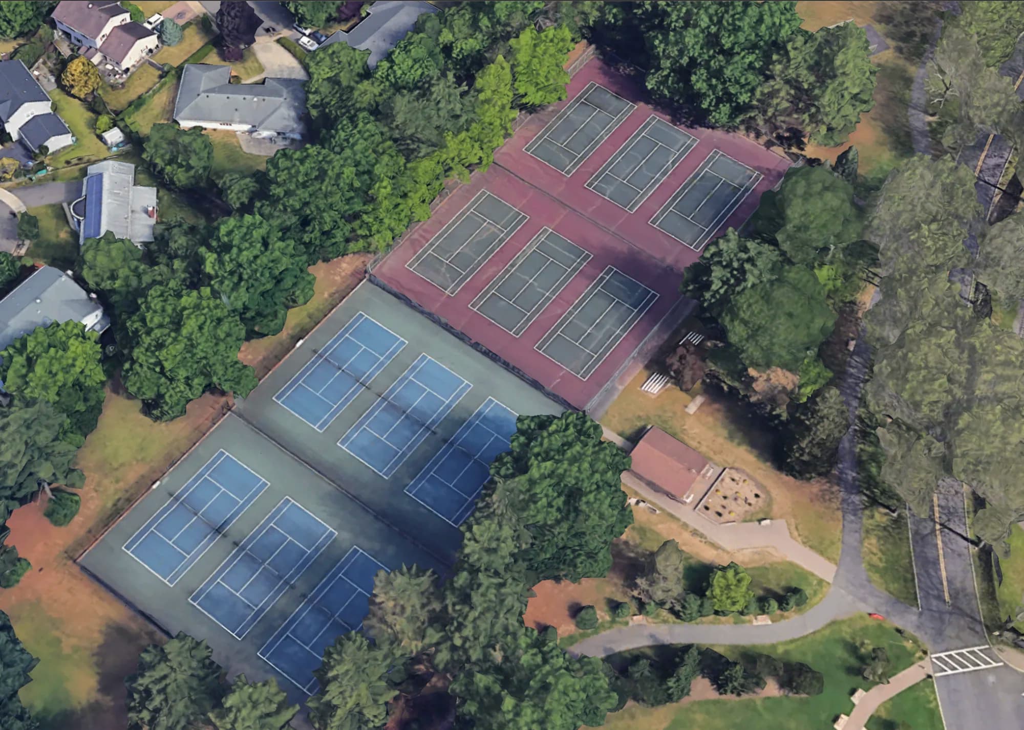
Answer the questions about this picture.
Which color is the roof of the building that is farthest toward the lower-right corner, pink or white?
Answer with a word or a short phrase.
pink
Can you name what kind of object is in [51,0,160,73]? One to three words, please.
house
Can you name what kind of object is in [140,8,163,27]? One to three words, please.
car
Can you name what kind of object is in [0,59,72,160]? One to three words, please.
house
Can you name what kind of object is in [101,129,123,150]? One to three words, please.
shed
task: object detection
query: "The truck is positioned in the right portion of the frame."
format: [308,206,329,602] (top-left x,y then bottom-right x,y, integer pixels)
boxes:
[628,491,662,515]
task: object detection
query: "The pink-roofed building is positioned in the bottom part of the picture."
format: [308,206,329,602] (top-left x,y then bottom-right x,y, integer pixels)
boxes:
[628,426,710,495]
